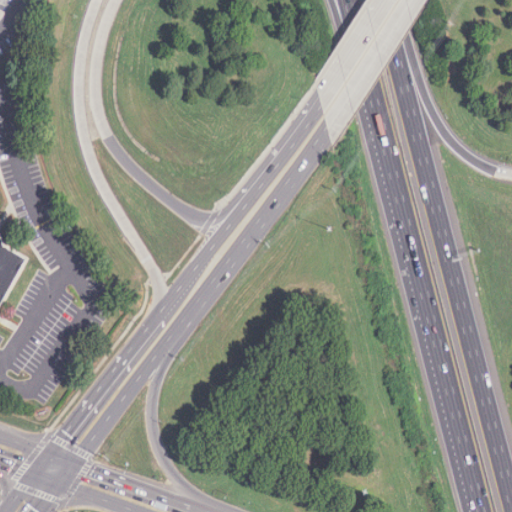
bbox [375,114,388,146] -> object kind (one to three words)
vehicle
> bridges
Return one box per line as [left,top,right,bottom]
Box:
[312,0,425,148]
